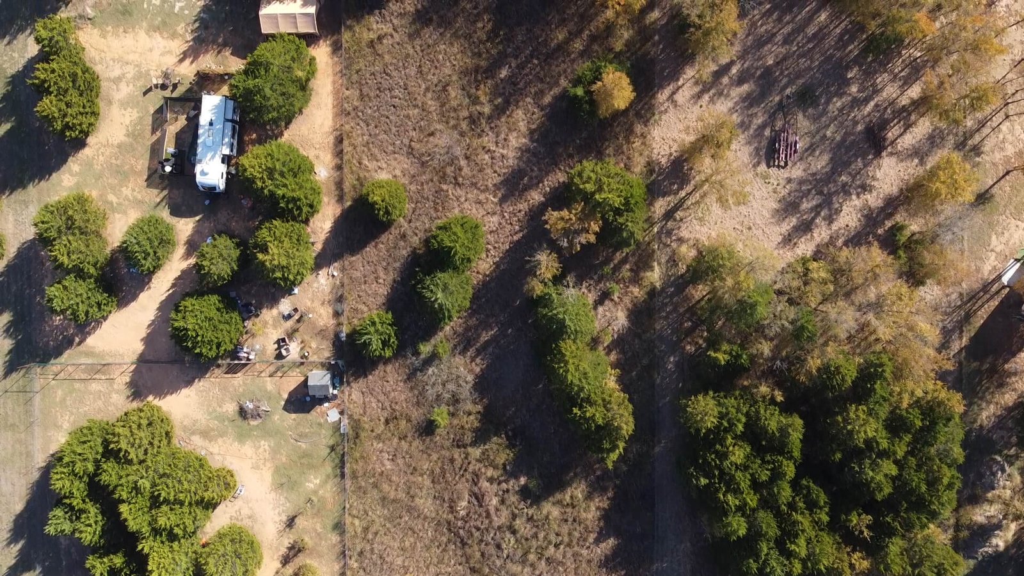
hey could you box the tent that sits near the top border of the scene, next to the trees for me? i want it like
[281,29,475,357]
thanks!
[258,0,326,50]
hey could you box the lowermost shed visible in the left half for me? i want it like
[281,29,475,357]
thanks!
[308,369,339,402]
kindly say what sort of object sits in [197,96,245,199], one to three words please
camper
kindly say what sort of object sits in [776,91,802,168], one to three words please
trailer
